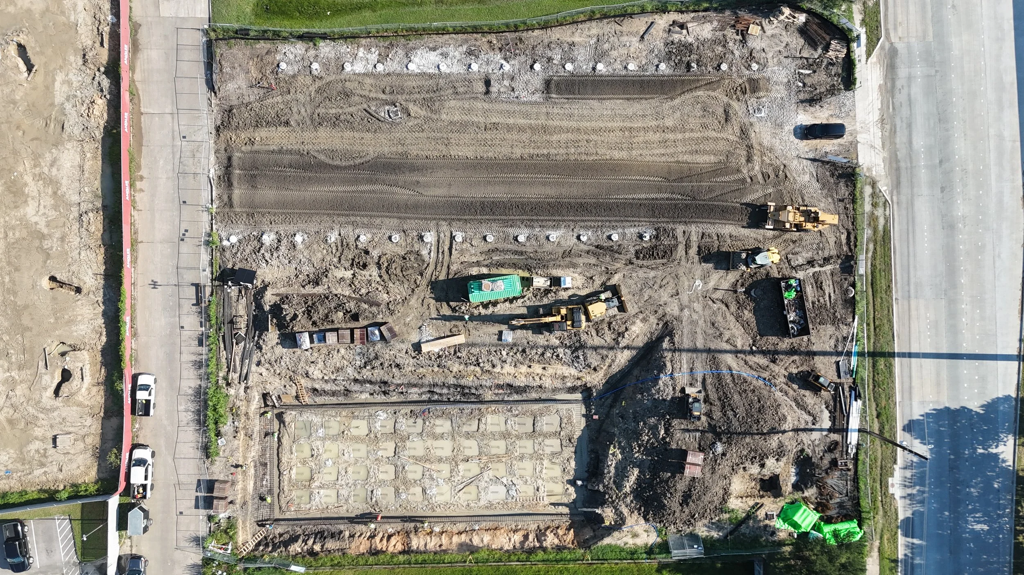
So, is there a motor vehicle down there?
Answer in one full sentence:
Yes, a motor vehicle is visible in the scene.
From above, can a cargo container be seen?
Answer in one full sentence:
Yes, this view includes a cargo container.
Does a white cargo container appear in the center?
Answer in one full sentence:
No, no white cargo container can be made out in the center.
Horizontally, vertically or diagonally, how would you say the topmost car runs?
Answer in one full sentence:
The topmost car is laid out horizontally.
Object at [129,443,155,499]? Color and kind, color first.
white truck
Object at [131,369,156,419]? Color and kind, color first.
white truck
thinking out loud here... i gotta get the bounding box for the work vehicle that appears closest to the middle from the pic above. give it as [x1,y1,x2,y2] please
[511,305,585,331]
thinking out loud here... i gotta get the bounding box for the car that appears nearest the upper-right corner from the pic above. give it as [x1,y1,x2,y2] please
[801,121,846,142]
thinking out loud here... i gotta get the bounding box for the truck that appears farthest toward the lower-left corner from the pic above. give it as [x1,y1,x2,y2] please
[5,516,34,571]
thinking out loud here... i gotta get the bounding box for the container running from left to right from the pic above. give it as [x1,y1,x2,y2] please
[468,275,522,302]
